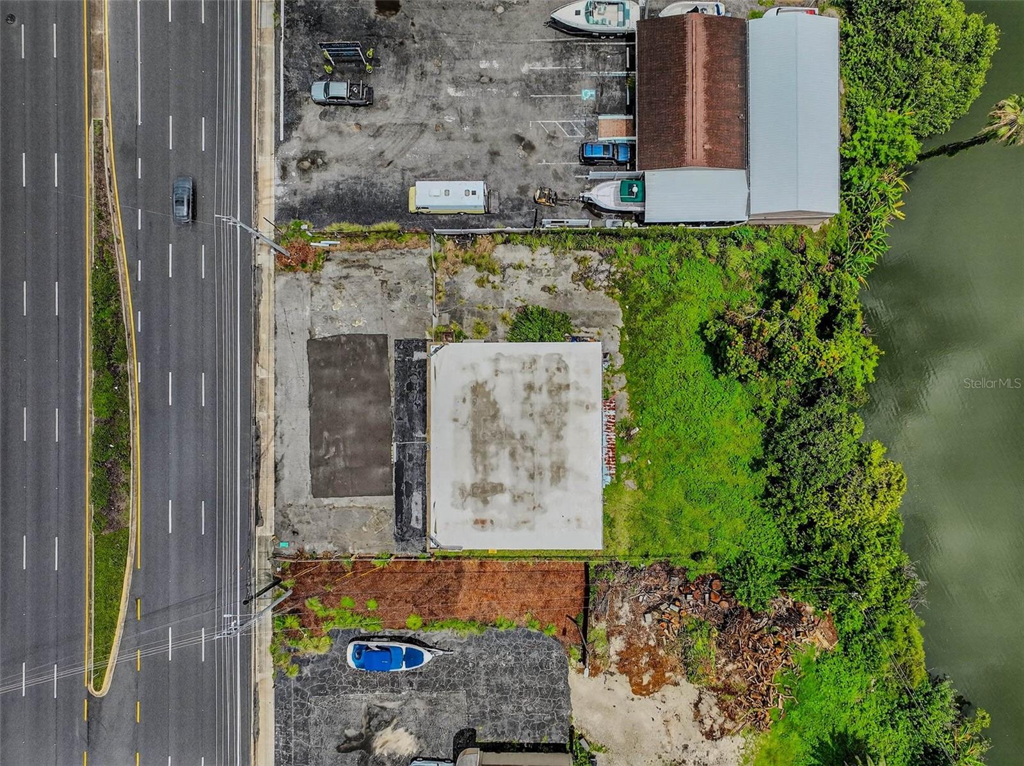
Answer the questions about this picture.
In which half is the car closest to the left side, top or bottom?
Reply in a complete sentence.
The top half of the photo is where the car closest to the left side is.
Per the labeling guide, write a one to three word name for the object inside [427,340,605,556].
building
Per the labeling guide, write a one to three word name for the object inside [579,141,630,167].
car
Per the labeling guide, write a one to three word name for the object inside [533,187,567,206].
work vehicle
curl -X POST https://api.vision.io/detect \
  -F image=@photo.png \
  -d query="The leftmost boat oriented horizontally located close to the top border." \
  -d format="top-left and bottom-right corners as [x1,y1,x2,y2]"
[549,0,646,30]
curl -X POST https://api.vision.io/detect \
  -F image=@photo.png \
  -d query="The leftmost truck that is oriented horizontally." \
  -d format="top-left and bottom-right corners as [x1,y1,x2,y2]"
[313,80,375,108]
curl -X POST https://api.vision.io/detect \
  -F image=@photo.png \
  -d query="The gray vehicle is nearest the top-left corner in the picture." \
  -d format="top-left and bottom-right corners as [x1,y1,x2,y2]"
[171,176,198,225]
